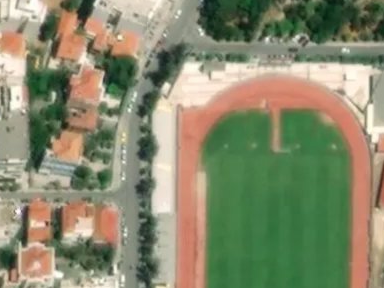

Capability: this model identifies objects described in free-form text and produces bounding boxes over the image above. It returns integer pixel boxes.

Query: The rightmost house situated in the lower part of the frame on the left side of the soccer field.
[94,204,119,246]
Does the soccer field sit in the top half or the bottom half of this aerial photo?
bottom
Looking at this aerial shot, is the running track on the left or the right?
right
